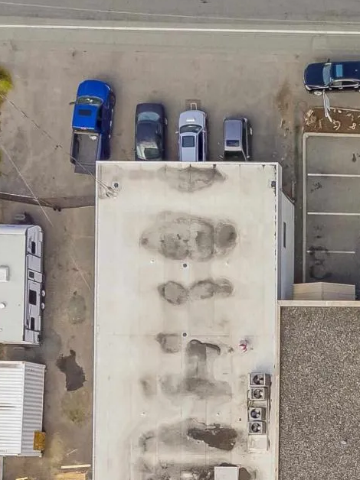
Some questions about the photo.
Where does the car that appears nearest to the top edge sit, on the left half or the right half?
right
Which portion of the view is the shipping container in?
bottom left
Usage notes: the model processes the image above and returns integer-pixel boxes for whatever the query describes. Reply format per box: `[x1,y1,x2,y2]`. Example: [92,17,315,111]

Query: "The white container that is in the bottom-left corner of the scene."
[0,363,47,455]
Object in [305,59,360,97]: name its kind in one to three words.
car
